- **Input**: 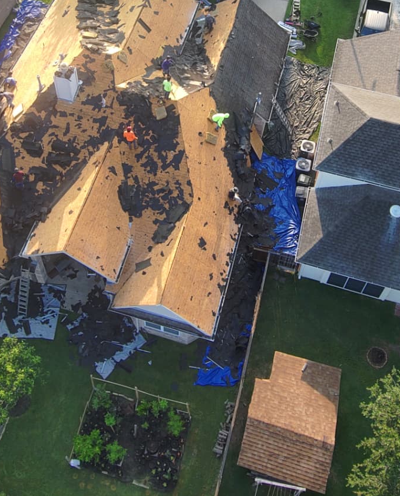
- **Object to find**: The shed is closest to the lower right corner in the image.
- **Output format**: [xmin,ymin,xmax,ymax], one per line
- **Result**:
[236,357,340,495]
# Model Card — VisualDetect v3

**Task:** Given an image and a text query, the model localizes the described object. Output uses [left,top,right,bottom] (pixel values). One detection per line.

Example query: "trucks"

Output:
[355,0,392,35]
